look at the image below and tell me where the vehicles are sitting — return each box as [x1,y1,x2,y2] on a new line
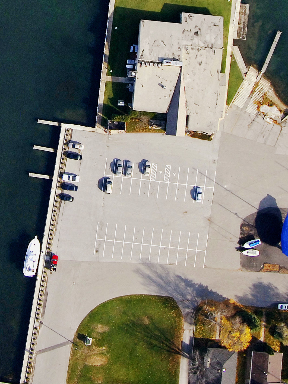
[62,174,81,182]
[61,184,78,191]
[50,255,58,272]
[67,152,83,161]
[116,161,124,177]
[196,187,203,203]
[126,162,133,178]
[107,179,113,194]
[59,194,75,202]
[68,143,85,150]
[144,161,152,177]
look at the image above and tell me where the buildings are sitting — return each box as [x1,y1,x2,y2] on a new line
[130,12,227,136]
[203,348,238,384]
[248,352,283,384]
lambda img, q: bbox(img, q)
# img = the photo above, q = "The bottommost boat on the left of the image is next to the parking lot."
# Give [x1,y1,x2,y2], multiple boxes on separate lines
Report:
[23,237,39,279]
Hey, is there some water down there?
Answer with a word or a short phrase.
Yes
